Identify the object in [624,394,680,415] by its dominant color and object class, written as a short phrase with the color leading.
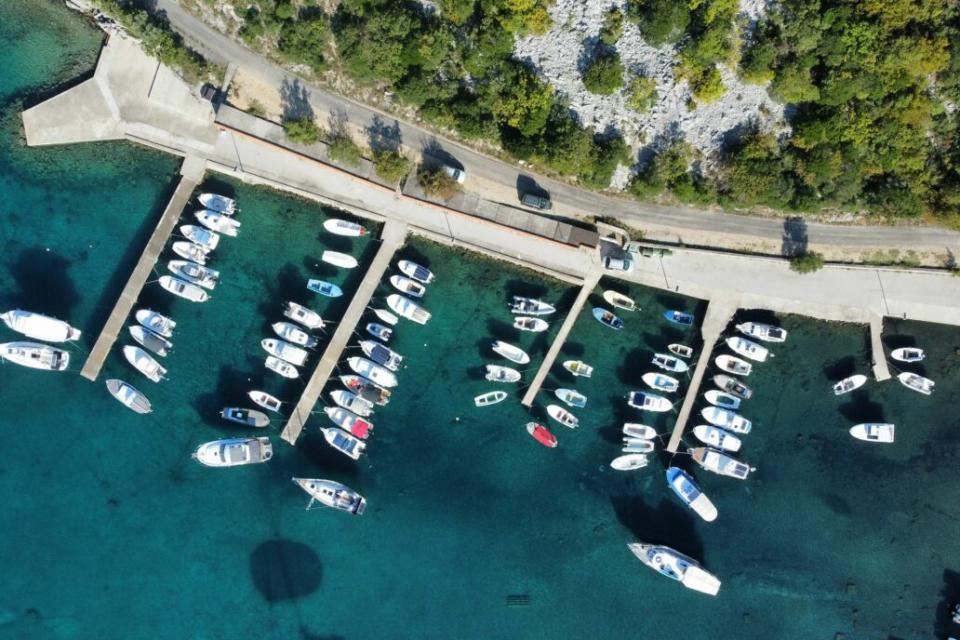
white boat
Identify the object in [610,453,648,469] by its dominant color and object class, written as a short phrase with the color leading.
white boat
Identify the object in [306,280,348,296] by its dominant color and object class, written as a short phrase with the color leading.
blue boat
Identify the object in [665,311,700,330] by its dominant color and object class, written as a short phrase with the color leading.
blue boat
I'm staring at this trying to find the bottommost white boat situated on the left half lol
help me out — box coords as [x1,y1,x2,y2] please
[289,479,369,517]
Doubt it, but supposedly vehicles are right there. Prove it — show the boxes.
[520,192,553,213]
[437,163,467,186]
[603,257,634,273]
